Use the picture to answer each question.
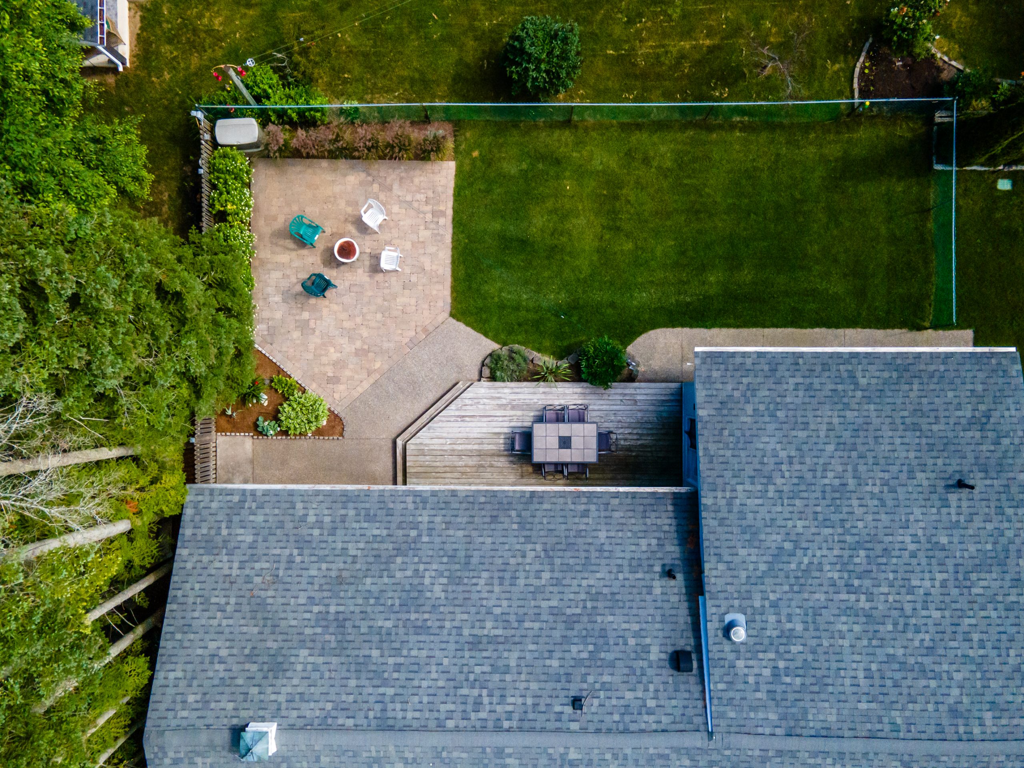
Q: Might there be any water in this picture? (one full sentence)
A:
No, the picture contains no water.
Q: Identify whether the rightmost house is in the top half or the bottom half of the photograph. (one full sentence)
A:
Seen from above, the rightmost house lies in the bottom half of the view.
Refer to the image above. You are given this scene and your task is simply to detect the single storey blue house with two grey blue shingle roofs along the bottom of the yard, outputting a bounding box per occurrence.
[144,346,1024,768]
